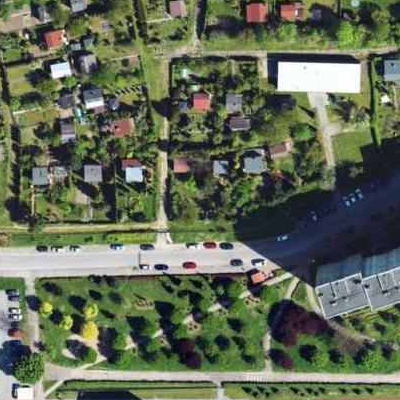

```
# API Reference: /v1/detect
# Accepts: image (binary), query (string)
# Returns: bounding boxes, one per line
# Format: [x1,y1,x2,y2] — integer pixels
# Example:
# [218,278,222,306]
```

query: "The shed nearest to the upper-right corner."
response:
[384,59,400,80]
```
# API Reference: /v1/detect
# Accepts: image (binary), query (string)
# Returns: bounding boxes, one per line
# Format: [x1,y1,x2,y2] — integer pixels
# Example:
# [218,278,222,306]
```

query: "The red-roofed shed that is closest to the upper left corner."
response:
[44,29,66,49]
